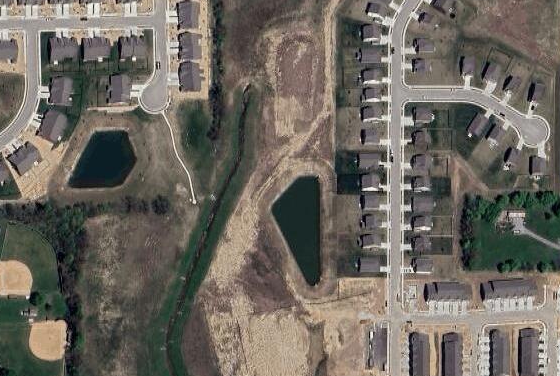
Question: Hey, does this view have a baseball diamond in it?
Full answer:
Yes, I can see a baseball diamond in this picture.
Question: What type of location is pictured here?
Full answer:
What you see here is a residential area.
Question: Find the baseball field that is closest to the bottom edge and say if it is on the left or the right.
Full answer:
The baseball field that is closest to the bottom edge appears in the left half of the scene.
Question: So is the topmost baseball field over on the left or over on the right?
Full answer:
The topmost baseball field appears in the left half of the scene.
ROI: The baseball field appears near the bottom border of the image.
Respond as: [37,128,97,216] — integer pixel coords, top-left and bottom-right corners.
[0,319,67,376]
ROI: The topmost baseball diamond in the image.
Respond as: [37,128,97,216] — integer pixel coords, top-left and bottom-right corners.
[0,224,62,297]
